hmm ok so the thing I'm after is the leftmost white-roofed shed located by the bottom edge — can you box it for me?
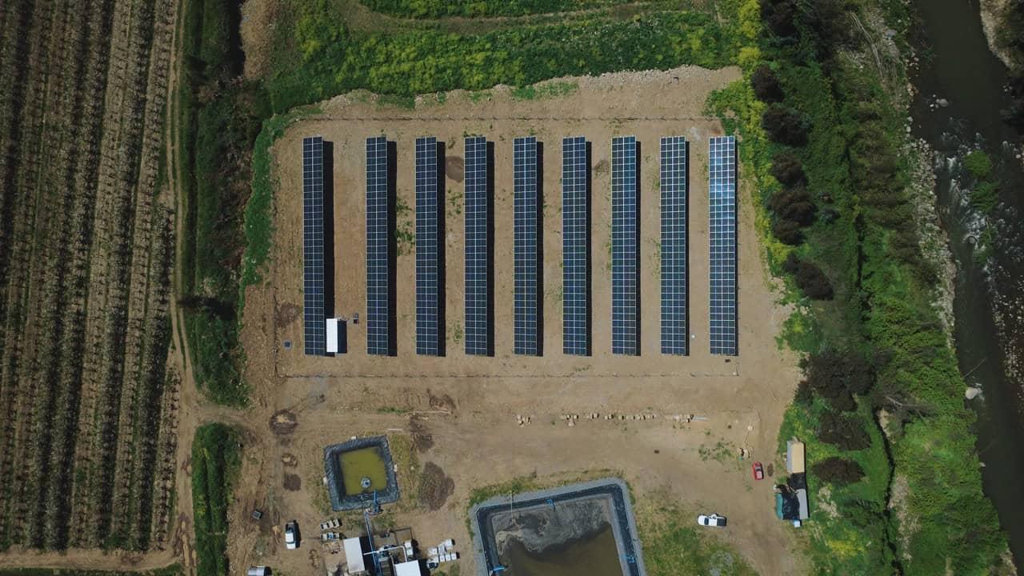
[343,537,365,573]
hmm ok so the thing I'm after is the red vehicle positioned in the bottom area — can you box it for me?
[751,461,763,481]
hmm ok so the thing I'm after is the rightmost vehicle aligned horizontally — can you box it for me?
[697,511,727,527]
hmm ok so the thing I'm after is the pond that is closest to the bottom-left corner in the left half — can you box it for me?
[324,435,400,510]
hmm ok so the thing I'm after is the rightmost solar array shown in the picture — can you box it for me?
[709,136,736,355]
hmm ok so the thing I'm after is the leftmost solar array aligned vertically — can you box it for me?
[303,136,323,355]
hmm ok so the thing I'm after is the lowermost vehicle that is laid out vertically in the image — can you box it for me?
[285,520,298,550]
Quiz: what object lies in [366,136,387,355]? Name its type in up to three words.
solar array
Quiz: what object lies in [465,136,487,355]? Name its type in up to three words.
solar array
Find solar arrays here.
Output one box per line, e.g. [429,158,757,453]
[303,136,323,355]
[366,136,387,355]
[416,136,437,355]
[612,136,636,355]
[465,136,487,355]
[563,136,587,355]
[514,136,537,355]
[709,136,736,355]
[660,136,686,355]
